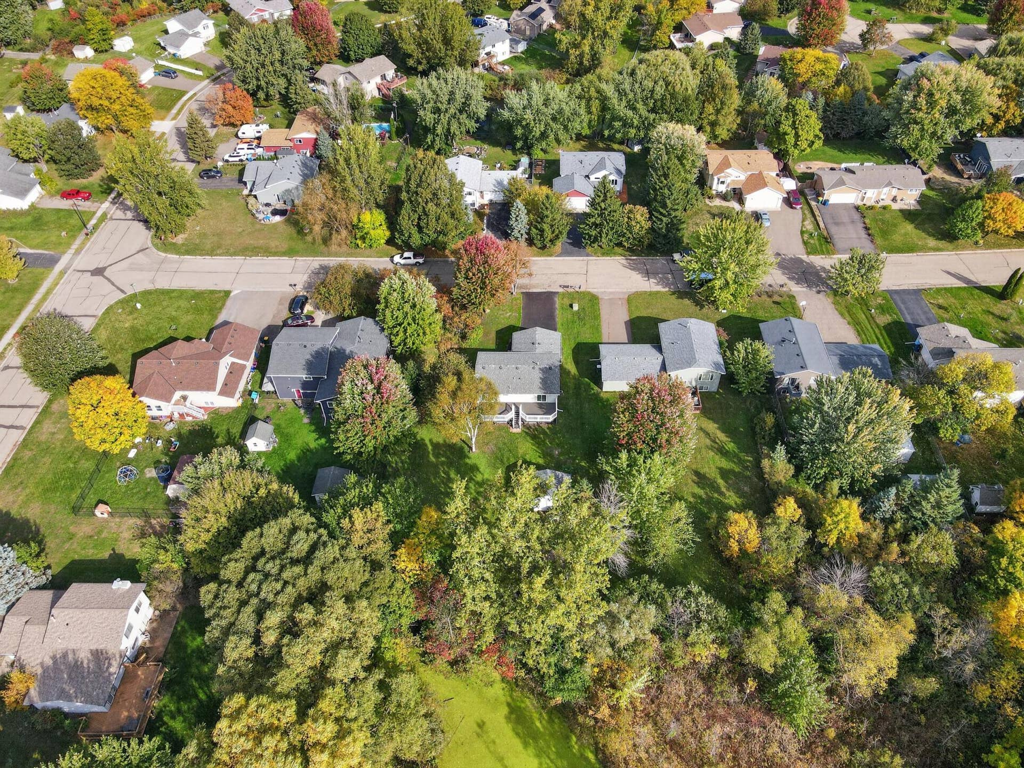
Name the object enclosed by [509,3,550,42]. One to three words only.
house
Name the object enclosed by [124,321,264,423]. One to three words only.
house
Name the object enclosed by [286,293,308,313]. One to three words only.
car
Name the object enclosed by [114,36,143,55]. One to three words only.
shed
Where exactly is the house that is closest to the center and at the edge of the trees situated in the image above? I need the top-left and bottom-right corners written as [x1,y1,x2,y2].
[476,323,562,432]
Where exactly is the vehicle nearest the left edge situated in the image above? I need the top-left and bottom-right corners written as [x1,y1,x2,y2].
[58,187,90,200]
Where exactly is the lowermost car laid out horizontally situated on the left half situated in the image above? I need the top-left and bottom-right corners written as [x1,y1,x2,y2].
[282,311,313,326]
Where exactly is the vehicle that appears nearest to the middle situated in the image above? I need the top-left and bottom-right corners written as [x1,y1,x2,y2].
[392,250,425,264]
